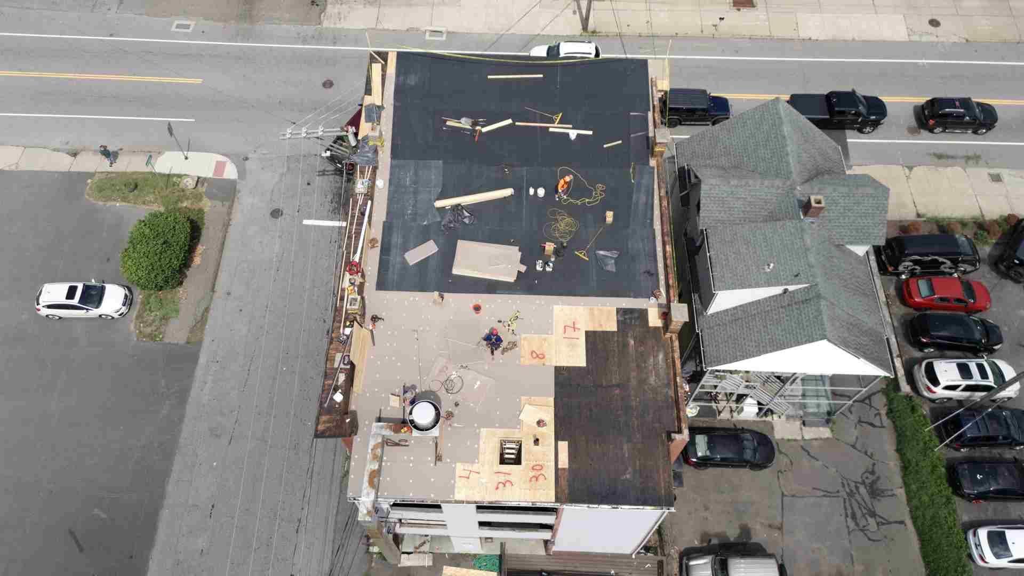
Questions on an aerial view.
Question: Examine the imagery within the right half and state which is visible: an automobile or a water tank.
automobile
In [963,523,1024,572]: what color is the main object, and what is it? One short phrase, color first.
white car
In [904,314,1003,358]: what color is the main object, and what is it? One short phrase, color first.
black car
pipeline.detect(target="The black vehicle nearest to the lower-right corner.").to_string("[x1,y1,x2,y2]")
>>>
[946,456,1024,505]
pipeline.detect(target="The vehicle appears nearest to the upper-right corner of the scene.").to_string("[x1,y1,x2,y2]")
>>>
[918,95,998,138]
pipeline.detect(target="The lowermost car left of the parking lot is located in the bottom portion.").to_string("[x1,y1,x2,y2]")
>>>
[681,424,775,473]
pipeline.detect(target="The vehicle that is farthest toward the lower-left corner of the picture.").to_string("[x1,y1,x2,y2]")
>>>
[33,281,139,324]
